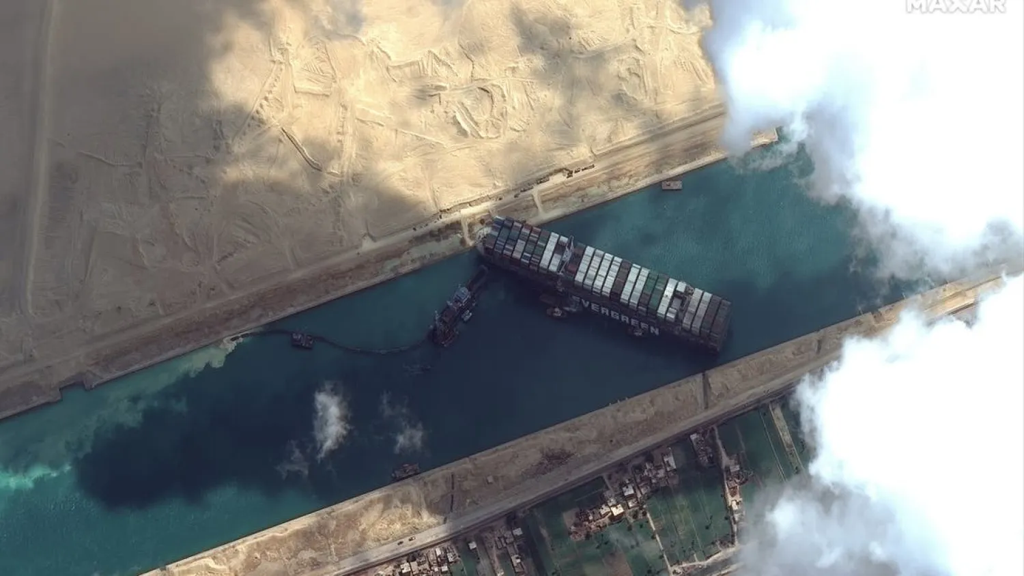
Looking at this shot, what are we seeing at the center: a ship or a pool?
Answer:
ship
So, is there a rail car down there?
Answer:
No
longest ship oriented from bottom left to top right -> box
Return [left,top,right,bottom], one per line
[433,274,482,346]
